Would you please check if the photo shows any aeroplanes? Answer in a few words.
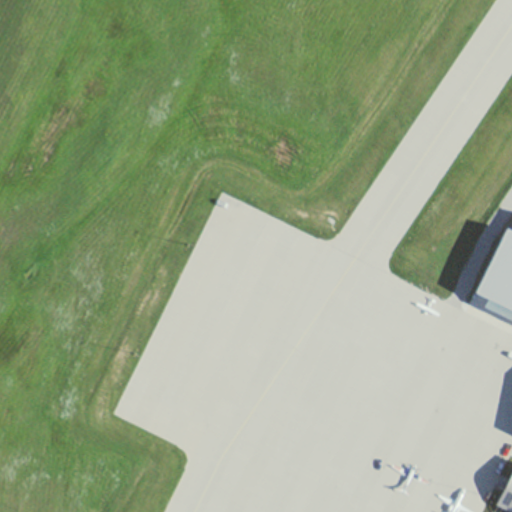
Yes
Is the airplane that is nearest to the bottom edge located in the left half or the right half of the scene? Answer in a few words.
right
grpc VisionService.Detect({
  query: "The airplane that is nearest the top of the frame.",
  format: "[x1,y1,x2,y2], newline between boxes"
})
[416,298,441,317]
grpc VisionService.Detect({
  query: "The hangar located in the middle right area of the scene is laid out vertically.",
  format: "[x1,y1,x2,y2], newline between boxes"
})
[470,226,512,321]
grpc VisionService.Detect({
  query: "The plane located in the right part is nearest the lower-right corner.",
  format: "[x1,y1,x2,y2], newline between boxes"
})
[434,488,470,512]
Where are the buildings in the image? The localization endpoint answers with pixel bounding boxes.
[496,472,512,512]
[470,226,512,321]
